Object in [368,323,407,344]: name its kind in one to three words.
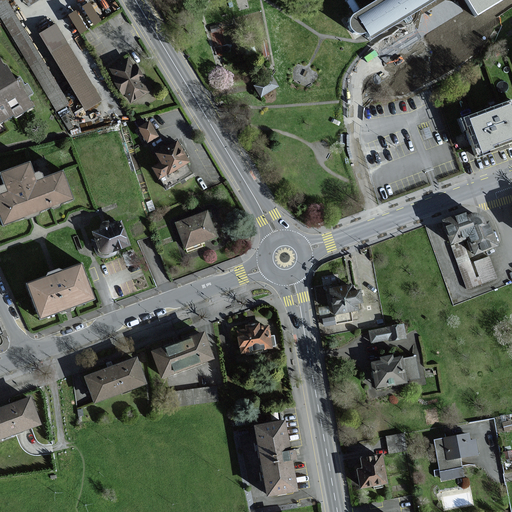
building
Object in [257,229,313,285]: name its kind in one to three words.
roundabout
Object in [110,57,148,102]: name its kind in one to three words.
house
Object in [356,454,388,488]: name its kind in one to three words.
house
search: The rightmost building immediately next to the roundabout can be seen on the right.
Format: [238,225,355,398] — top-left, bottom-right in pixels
[319,274,364,326]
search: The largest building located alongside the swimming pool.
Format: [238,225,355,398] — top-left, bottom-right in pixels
[434,433,479,482]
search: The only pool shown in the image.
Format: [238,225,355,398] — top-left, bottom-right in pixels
[441,492,474,511]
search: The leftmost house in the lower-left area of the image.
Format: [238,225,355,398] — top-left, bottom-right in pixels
[0,396,42,440]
